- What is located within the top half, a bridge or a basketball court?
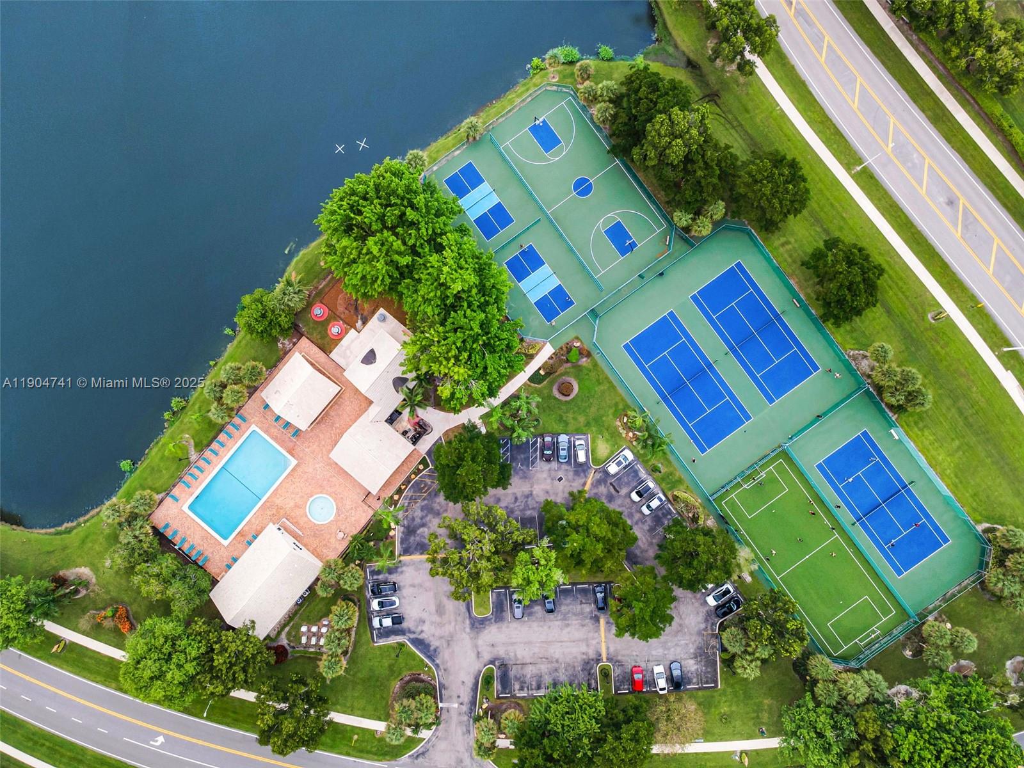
basketball court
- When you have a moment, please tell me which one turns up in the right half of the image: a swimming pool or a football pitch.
football pitch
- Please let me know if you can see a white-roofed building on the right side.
No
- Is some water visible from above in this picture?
Yes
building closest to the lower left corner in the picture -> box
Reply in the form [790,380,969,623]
[210,522,323,640]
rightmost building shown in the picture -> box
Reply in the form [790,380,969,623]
[330,330,421,495]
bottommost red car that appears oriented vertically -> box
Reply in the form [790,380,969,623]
[631,664,644,691]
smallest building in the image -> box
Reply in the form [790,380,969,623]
[261,352,348,431]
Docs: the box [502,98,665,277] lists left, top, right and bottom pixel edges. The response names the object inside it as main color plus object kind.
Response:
green basketball court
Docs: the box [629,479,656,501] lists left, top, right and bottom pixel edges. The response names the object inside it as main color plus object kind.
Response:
white car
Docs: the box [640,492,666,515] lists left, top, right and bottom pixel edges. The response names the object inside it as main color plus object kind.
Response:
white car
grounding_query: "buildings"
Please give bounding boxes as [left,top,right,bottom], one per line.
[261,352,348,431]
[210,522,323,640]
[330,330,421,495]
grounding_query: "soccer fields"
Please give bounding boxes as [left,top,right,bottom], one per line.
[715,448,909,659]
